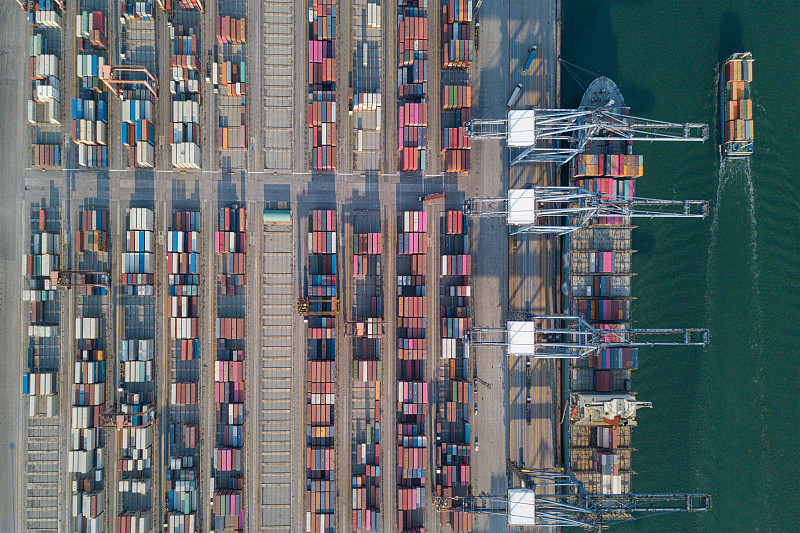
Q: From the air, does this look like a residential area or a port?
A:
port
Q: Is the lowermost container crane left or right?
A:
right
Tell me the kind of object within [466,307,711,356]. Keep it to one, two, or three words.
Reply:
container crane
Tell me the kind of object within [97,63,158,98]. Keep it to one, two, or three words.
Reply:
crane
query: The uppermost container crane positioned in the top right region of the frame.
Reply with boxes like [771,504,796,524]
[466,107,711,175]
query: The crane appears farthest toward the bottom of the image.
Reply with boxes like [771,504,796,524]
[436,452,711,531]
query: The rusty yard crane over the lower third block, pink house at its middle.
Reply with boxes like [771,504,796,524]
[99,402,157,431]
